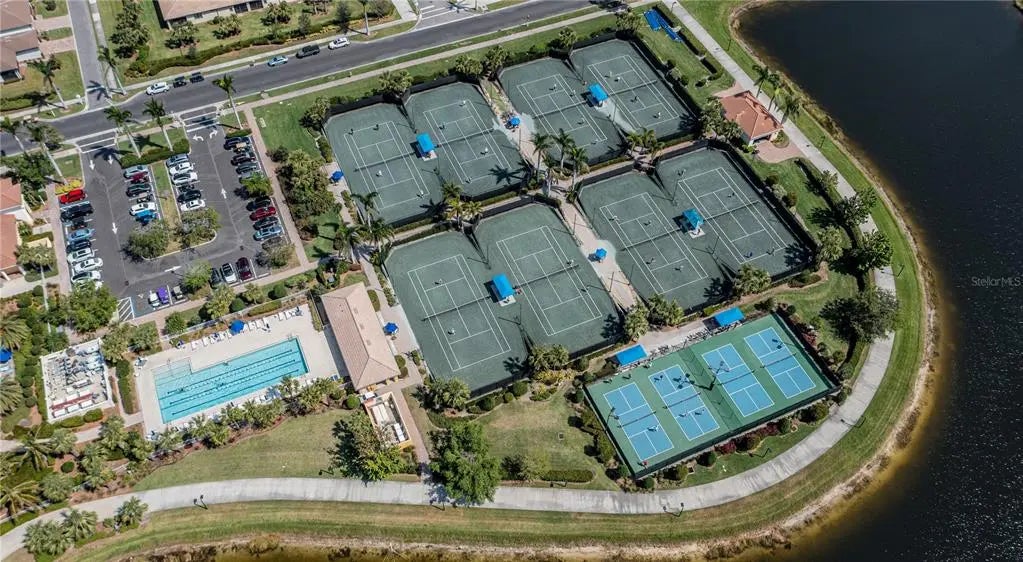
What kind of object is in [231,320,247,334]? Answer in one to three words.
umbrella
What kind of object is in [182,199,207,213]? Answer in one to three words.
vehicle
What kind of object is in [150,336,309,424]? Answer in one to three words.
swimming pool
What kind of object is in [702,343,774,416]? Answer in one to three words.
sports court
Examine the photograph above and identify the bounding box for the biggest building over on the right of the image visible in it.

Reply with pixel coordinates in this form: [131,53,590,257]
[715,90,783,145]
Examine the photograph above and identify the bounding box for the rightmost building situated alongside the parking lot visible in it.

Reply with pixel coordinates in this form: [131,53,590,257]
[317,281,400,393]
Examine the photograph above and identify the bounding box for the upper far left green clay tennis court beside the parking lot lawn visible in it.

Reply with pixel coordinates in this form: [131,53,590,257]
[322,102,453,229]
